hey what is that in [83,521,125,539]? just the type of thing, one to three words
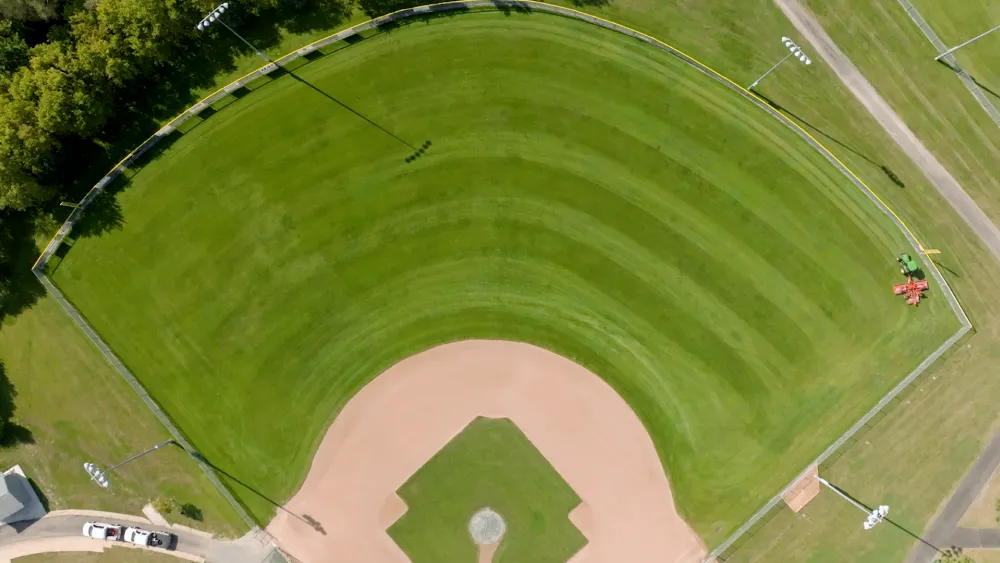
vehicle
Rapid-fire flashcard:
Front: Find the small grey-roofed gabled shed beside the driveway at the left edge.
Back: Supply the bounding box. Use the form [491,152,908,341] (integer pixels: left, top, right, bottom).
[0,472,31,521]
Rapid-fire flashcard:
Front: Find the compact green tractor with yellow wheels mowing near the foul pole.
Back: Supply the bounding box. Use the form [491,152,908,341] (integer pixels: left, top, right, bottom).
[896,254,918,274]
